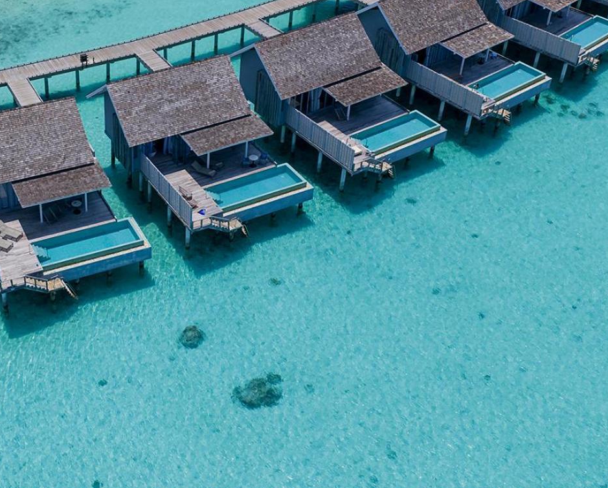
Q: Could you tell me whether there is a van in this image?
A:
No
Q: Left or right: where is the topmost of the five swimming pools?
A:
right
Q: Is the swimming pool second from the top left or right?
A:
right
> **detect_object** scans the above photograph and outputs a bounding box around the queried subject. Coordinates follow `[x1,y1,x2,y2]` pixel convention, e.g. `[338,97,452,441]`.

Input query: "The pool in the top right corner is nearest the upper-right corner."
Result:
[554,15,608,58]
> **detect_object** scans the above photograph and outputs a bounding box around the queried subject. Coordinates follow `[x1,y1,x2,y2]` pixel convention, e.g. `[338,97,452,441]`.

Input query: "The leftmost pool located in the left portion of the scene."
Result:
[28,217,150,282]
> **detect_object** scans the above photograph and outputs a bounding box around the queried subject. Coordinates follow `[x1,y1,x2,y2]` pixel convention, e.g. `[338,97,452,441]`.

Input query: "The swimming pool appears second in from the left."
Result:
[200,162,313,222]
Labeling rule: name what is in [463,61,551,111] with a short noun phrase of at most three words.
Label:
swimming pool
